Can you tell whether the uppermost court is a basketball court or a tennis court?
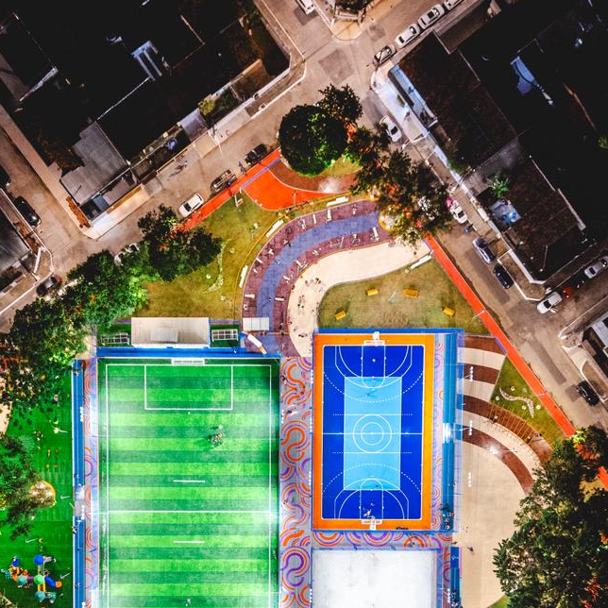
basketball court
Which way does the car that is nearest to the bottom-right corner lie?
diagonally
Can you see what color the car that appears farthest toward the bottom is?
black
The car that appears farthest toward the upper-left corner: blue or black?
black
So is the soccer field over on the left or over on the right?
left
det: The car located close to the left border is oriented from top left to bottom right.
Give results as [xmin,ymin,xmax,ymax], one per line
[13,195,38,223]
